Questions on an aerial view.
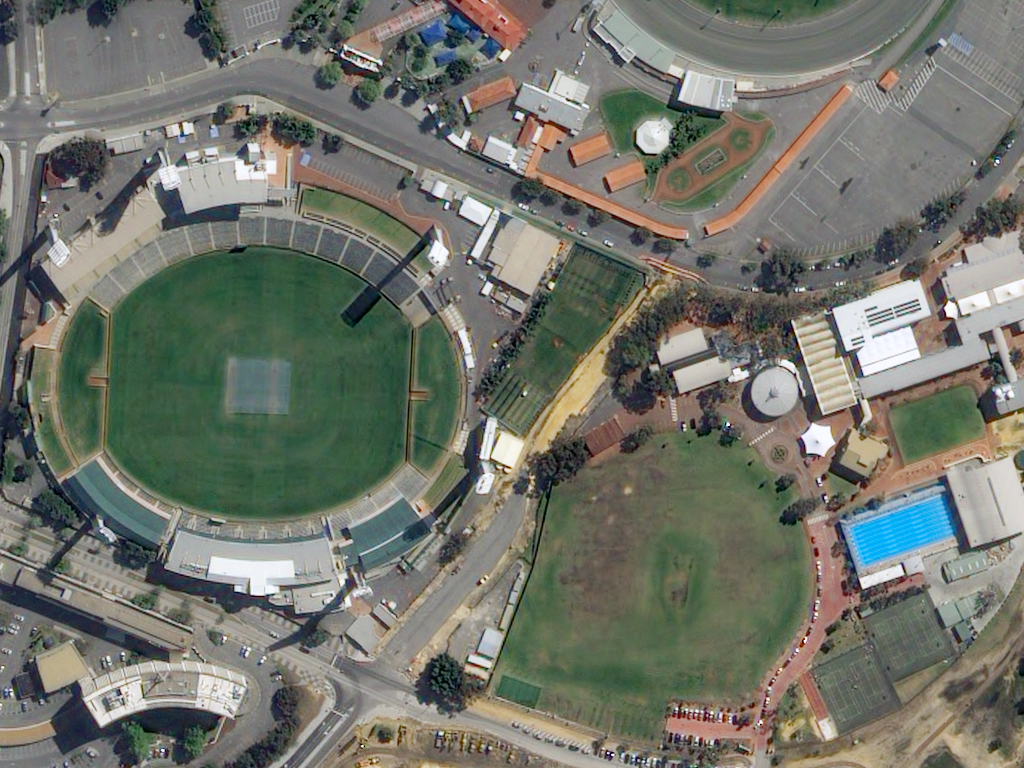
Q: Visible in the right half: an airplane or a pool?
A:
pool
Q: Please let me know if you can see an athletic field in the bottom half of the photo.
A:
Yes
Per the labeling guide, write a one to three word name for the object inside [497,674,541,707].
sports field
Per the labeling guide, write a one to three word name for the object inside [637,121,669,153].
building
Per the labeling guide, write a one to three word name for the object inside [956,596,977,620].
shed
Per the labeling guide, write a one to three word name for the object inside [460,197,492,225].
tent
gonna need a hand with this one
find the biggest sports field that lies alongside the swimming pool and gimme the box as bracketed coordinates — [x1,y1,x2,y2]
[495,432,810,748]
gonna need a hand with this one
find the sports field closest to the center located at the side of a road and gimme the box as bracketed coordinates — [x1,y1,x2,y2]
[481,243,645,436]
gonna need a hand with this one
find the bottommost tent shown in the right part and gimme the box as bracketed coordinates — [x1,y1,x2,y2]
[800,421,836,456]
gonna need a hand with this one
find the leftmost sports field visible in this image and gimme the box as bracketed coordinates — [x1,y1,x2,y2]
[104,244,414,522]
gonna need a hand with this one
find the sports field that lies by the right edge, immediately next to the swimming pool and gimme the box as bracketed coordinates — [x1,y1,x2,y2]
[886,385,990,478]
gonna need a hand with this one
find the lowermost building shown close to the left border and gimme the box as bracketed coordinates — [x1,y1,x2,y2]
[0,718,56,746]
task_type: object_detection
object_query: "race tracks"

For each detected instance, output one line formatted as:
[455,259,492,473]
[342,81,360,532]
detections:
[610,0,931,74]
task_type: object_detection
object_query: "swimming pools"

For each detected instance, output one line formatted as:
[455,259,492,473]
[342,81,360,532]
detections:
[838,484,966,576]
